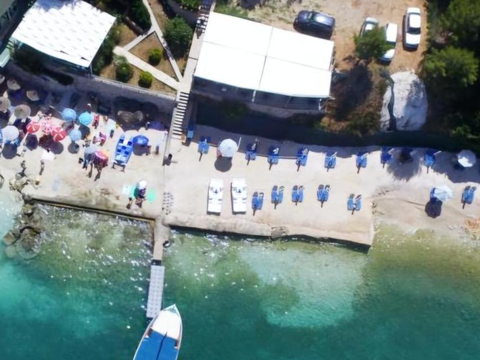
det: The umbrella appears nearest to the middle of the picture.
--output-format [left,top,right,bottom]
[218,139,236,158]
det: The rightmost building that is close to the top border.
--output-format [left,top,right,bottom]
[193,10,335,114]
